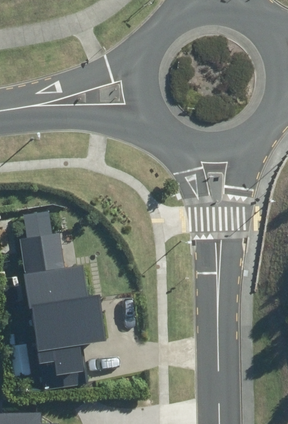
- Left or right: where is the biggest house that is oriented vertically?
left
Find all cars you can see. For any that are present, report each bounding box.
[124,300,136,329]
[88,358,120,372]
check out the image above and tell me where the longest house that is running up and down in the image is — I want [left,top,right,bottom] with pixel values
[20,212,106,390]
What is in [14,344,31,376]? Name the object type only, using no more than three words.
shed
